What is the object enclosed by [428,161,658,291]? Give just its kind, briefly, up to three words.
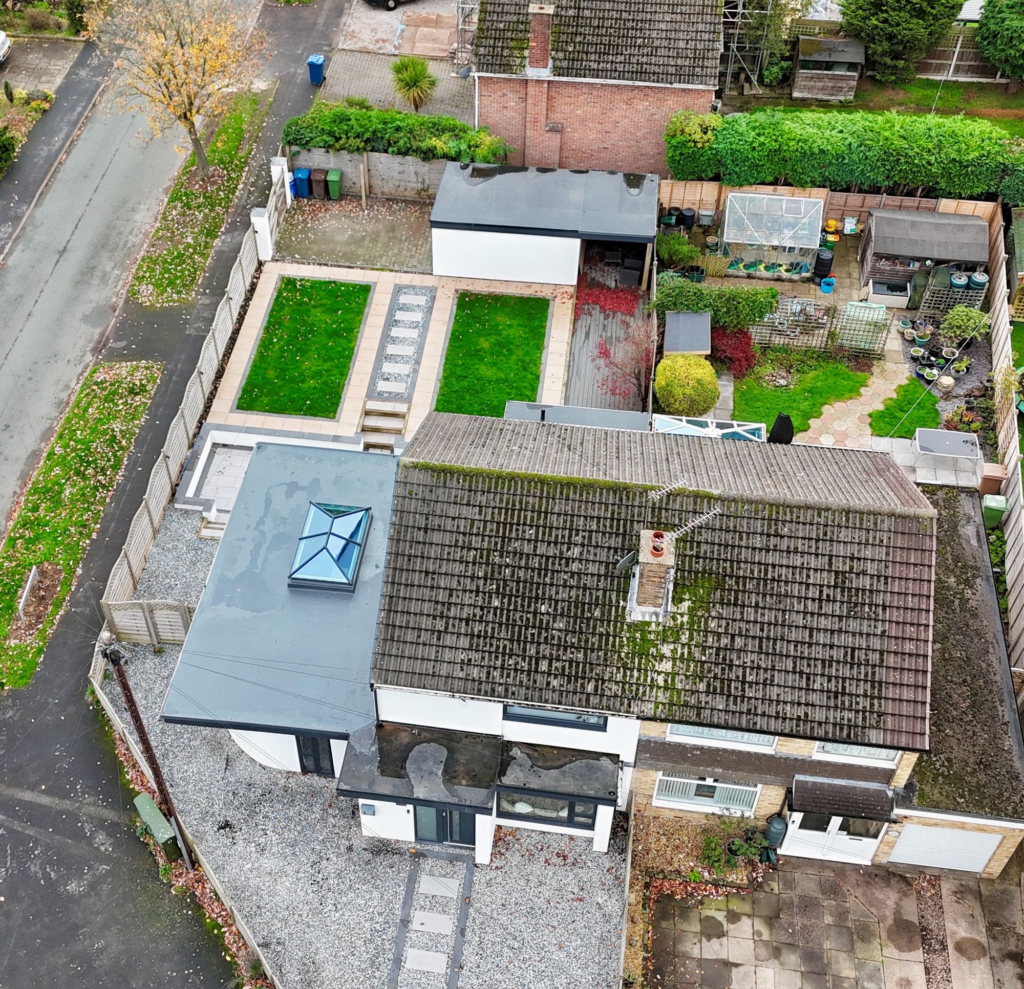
building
